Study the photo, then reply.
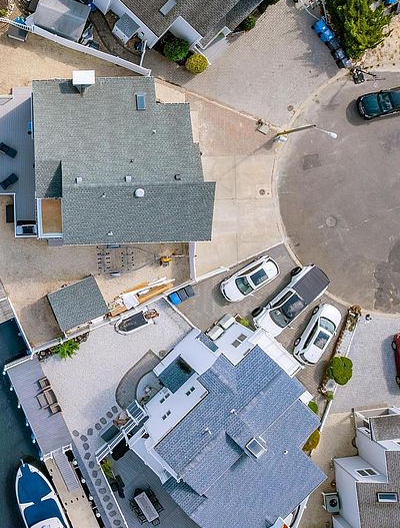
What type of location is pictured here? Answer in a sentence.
The picture captures a residential area.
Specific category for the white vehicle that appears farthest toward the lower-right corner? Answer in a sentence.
Looking closely, the white vehicle that appears farthest toward the lower-right corner is a car.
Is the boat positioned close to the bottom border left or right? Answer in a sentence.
The boat positioned close to the bottom border sits on the left side.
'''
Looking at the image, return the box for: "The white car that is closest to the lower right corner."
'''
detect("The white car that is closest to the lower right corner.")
[292,302,341,366]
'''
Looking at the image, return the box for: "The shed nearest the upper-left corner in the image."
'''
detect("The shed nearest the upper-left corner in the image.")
[34,0,91,43]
